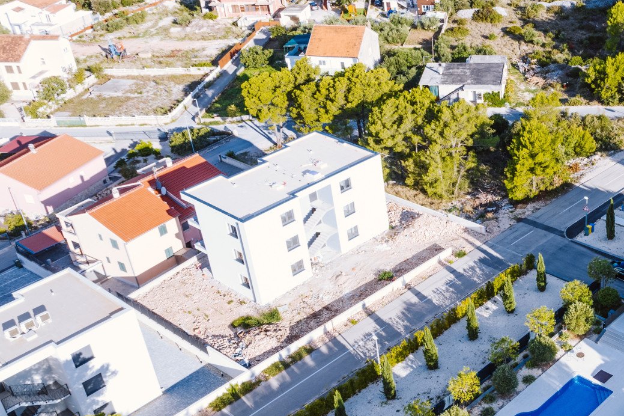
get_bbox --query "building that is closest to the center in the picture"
[172,133,390,303]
